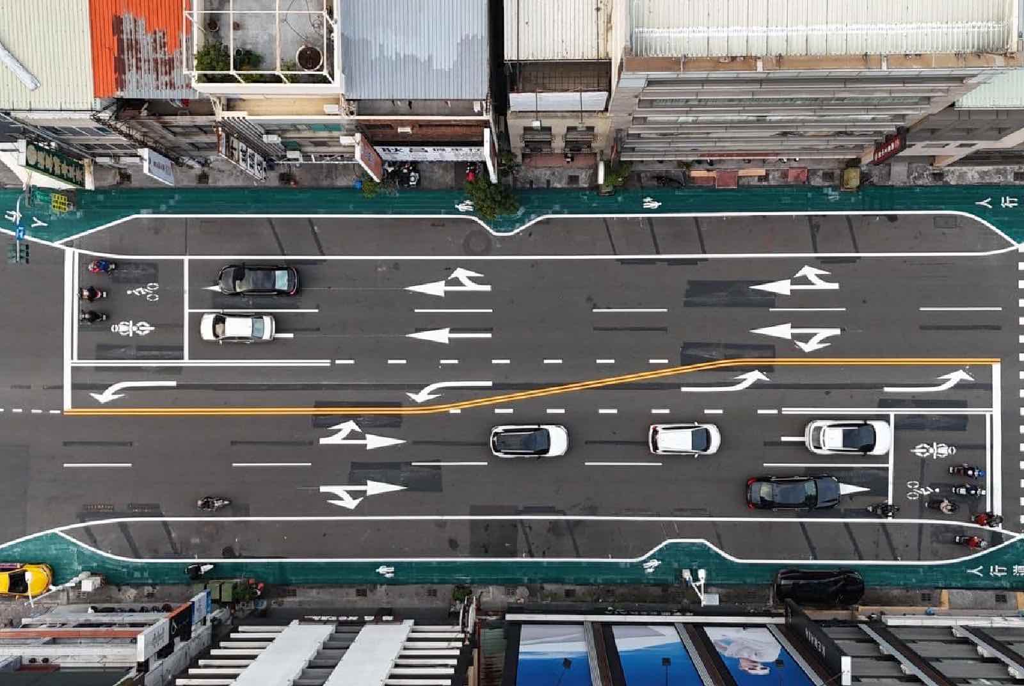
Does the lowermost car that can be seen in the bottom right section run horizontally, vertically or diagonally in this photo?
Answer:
horizontally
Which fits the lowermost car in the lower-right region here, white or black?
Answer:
black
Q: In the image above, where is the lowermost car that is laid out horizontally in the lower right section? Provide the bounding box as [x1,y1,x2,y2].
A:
[773,569,862,610]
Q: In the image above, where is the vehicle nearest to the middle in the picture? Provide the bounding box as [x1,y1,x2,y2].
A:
[490,421,568,460]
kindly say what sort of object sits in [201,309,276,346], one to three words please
car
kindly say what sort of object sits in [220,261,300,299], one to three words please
car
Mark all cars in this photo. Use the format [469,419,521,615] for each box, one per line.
[220,261,300,299]
[773,569,862,610]
[649,421,720,458]
[0,560,57,600]
[201,309,276,346]
[804,417,889,458]
[747,473,838,513]
[490,421,568,460]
